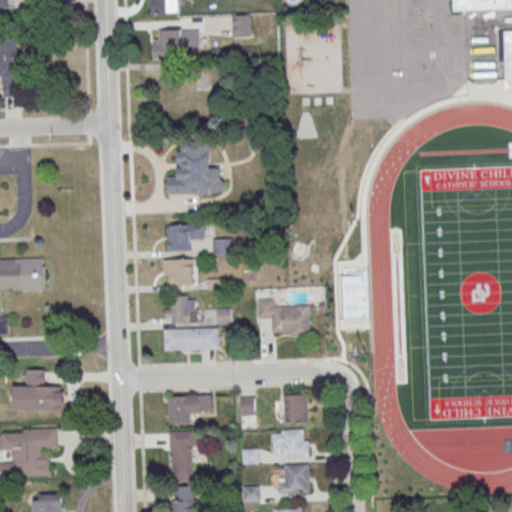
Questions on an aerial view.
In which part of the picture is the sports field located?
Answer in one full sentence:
Look in the right portion of the view to spot the sports field.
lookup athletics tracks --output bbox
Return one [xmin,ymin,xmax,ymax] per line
[368,104,512,497]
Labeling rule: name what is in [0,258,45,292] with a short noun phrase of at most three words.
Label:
house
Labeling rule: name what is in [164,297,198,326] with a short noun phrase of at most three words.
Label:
house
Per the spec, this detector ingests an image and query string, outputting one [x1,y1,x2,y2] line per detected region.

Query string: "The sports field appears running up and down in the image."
[390,126,512,433]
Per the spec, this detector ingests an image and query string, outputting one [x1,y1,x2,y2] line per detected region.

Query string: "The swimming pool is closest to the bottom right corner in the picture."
[286,291,308,306]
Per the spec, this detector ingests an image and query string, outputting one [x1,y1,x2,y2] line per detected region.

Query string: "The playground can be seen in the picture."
[285,24,343,95]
